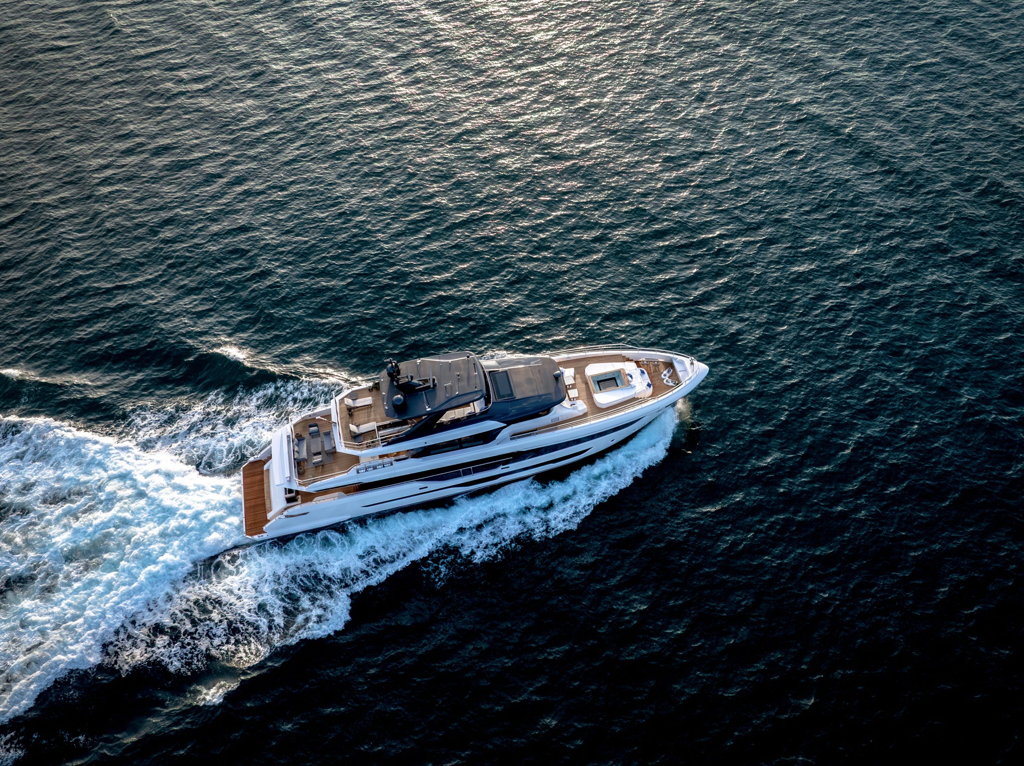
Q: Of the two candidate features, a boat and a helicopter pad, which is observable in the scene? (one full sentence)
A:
There is a boat in the scene.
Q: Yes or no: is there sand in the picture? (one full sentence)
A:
No, the scene doesn't show any sand.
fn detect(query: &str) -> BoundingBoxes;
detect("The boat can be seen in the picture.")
[241,333,708,541]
